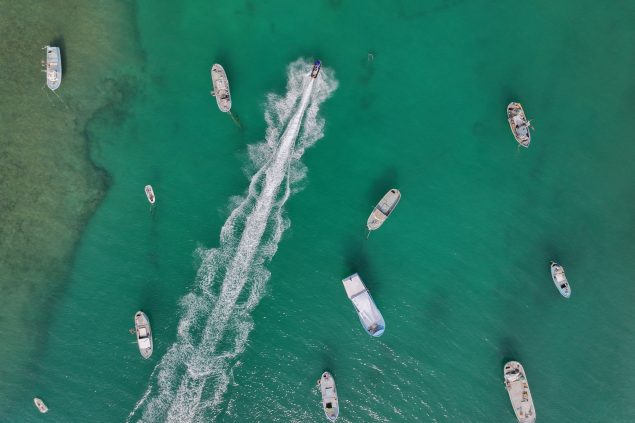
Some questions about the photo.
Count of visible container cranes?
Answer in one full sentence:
There are no container cranes in this view.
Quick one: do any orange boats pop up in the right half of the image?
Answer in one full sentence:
No, no orange boat is visible in the right half of the image.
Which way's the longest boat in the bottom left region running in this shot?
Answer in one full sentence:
Seen from above, the longest boat in the bottom left region lies up and down.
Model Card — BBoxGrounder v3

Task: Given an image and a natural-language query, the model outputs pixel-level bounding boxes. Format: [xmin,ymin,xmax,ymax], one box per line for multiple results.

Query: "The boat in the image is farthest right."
[549,260,572,299]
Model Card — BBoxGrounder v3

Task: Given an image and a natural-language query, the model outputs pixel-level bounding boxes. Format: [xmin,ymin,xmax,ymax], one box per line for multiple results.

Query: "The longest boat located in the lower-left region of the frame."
[130,311,153,359]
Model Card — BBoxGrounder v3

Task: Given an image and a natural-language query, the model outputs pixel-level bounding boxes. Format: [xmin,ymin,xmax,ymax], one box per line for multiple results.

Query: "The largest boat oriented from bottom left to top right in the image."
[365,187,397,243]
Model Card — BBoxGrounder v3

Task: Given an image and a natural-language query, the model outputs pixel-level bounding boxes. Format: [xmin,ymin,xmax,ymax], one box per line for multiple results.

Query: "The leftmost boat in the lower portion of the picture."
[35,398,48,413]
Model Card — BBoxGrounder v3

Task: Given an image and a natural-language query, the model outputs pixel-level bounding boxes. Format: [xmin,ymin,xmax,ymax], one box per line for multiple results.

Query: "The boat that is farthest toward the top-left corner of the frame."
[42,46,68,110]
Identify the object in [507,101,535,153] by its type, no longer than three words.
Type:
boat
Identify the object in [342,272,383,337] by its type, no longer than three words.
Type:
boat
